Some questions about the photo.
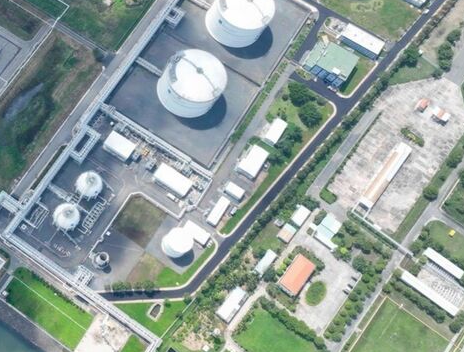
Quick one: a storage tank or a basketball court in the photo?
storage tank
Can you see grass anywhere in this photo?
Yes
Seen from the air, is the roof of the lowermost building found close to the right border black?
No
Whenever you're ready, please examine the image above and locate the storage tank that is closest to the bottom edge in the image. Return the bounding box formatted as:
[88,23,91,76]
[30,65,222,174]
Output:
[160,223,195,256]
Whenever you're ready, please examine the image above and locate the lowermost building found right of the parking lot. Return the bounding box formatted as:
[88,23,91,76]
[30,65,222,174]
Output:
[400,271,459,316]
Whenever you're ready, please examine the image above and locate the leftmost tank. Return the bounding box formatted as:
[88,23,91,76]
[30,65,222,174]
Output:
[50,202,80,232]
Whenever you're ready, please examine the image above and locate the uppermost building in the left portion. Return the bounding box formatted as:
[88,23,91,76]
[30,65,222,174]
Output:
[103,131,135,159]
